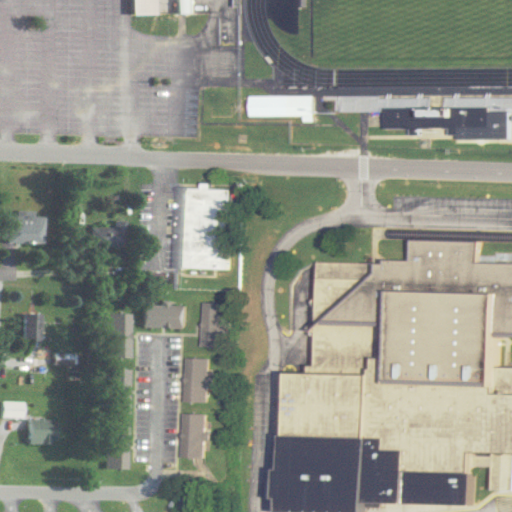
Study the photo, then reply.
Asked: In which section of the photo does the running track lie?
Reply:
top right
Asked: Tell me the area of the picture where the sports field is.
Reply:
top right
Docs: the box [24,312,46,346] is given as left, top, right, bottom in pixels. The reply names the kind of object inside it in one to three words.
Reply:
house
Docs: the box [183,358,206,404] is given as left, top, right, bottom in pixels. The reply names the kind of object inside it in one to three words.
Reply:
building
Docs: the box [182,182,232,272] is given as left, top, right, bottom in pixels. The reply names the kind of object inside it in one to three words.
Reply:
building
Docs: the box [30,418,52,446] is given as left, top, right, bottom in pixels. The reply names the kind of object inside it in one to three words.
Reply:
house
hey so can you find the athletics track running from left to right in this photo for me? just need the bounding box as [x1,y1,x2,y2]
[244,0,512,96]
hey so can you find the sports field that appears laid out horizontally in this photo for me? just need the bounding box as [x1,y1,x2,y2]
[266,0,512,70]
